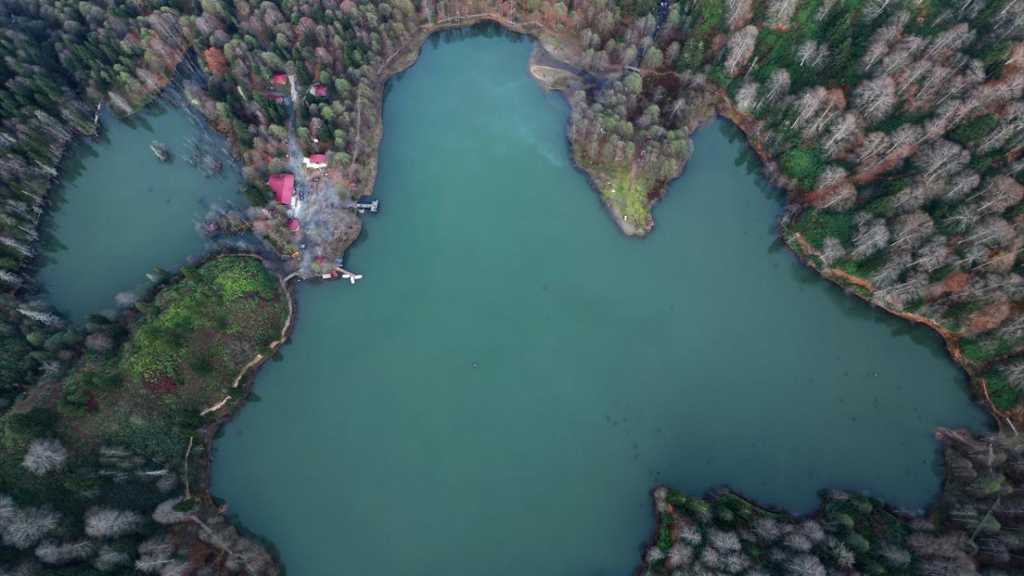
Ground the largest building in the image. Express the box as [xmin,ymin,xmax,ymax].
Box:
[263,174,298,208]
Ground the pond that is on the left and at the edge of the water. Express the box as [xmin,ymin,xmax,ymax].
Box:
[14,59,287,324]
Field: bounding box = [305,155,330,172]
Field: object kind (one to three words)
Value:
building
